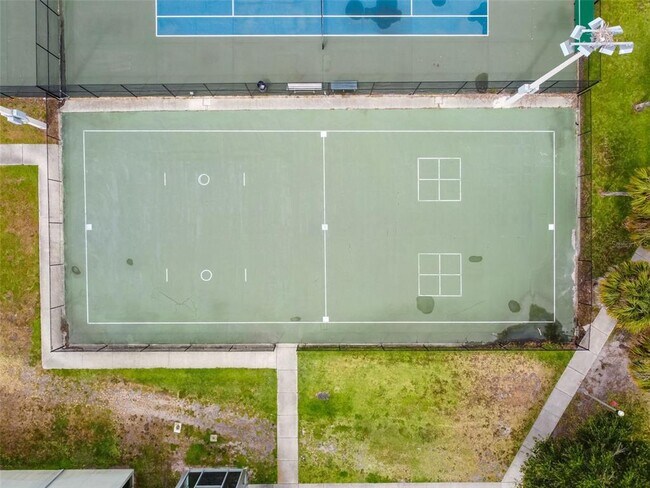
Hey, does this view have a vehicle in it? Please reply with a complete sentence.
No, I can't see a single vehicle in this photo.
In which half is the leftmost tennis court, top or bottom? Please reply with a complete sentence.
Seen from above, the leftmost tennis court lies in the top half of the view.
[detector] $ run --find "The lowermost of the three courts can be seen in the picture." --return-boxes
[62,107,577,346]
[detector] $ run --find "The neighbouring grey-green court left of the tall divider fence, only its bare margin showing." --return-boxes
[0,0,60,98]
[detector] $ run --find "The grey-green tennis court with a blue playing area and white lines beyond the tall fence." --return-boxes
[60,0,578,96]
